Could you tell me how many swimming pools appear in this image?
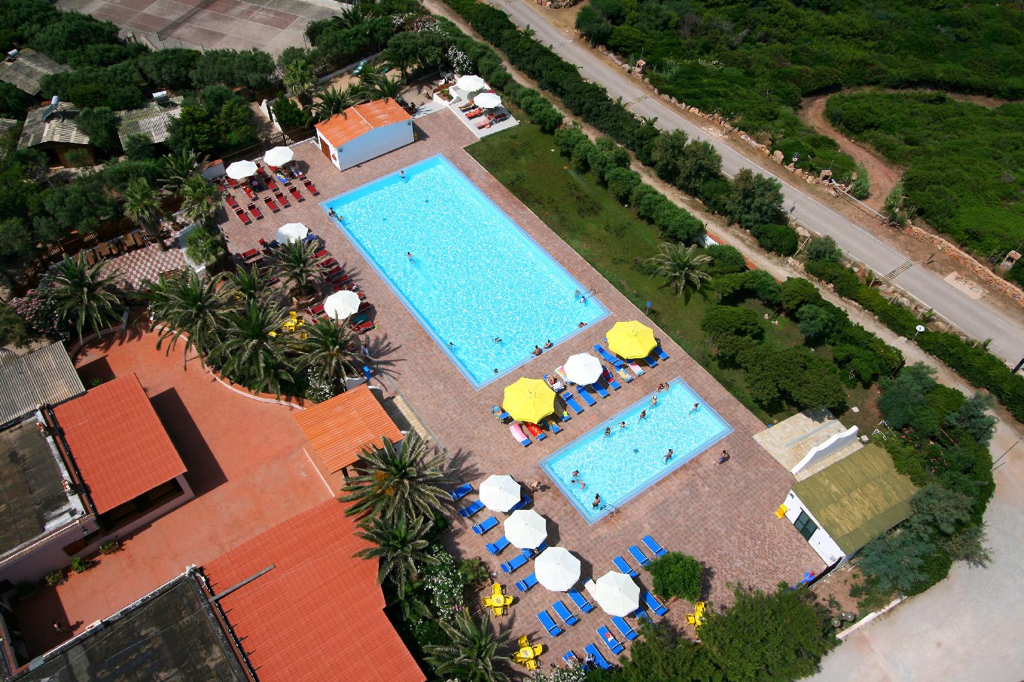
2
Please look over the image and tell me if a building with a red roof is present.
Yes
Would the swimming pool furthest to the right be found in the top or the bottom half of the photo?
bottom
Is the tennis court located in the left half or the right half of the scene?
left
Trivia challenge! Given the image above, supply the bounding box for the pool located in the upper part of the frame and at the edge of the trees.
[327,158,602,381]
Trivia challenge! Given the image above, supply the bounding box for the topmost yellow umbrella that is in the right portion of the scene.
[609,318,655,356]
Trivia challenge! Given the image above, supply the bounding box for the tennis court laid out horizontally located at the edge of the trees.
[99,0,297,56]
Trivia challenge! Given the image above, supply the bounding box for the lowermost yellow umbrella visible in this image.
[503,376,556,420]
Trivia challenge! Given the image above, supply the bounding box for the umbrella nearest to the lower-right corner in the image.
[594,570,642,617]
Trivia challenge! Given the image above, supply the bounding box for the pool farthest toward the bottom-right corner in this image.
[550,386,722,515]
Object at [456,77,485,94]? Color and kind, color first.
white umbrella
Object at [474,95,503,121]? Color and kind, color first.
white umbrella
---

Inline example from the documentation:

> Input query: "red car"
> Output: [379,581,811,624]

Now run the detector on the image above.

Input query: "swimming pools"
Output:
[550,386,722,515]
[327,158,602,381]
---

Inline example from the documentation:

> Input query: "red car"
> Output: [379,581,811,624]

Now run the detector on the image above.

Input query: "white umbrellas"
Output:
[326,294,363,325]
[267,147,298,174]
[228,160,260,186]
[503,508,548,549]
[474,95,503,121]
[479,473,523,512]
[456,77,485,94]
[566,354,604,385]
[535,548,580,592]
[594,570,642,617]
